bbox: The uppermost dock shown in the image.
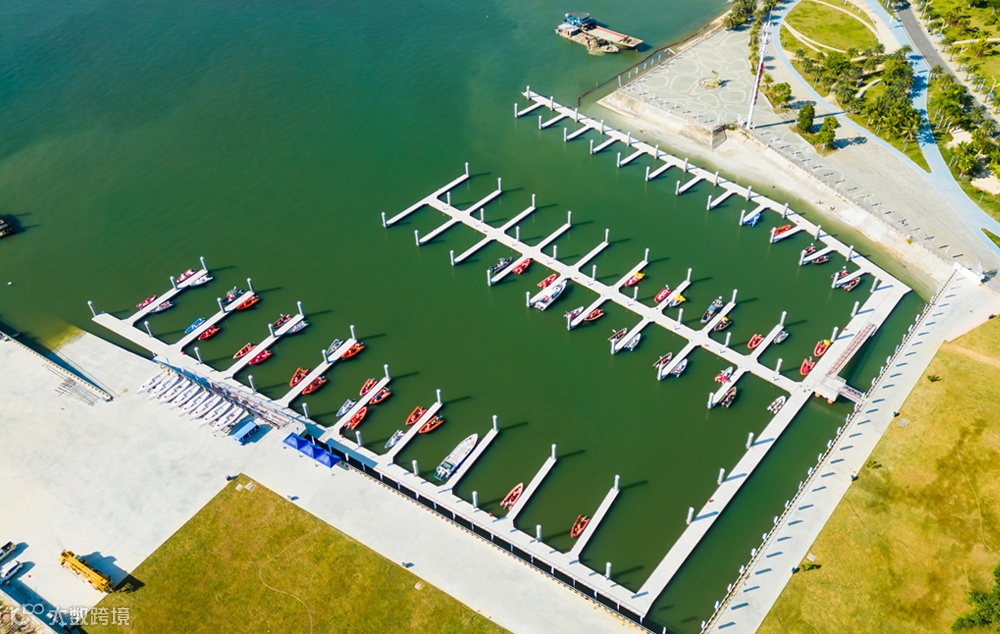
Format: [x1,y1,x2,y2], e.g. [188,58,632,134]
[515,92,893,289]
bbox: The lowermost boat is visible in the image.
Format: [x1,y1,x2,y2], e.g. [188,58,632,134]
[571,515,590,537]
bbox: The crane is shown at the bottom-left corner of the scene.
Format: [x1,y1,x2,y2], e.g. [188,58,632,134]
[55,550,114,597]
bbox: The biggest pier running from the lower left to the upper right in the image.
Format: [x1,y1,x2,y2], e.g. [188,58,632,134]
[638,277,912,617]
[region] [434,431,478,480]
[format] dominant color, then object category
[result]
white boat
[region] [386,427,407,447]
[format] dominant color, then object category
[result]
white boat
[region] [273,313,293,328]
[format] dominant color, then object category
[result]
red boat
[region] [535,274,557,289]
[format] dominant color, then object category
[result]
red boat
